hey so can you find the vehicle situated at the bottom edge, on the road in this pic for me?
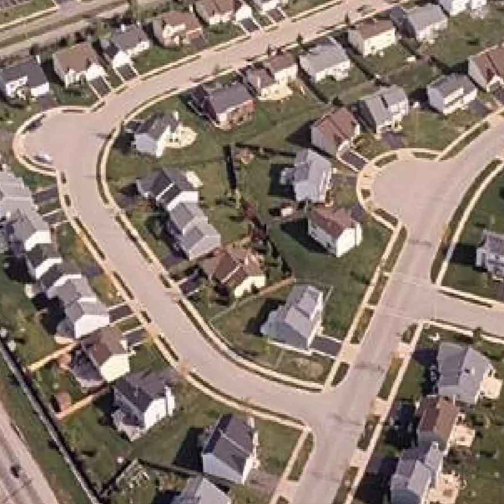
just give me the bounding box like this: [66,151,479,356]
[9,461,24,481]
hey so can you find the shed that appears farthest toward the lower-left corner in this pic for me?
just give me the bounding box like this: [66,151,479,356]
[50,388,73,411]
